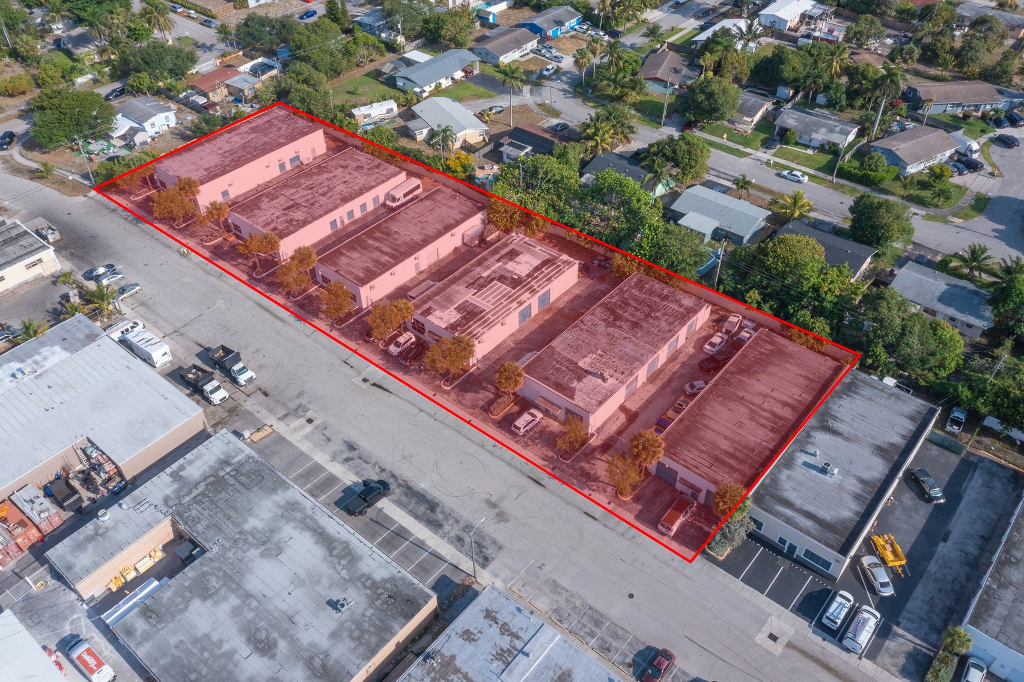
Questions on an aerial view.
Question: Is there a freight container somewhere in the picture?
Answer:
Yes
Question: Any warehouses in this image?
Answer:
Yes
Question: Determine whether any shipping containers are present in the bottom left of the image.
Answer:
Yes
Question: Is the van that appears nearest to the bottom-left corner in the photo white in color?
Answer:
Yes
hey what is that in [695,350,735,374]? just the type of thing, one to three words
truck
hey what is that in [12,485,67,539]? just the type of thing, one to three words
shipping container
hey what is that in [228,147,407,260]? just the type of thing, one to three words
warehouse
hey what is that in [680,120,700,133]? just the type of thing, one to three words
vehicle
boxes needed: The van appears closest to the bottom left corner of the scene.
[65,632,114,682]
